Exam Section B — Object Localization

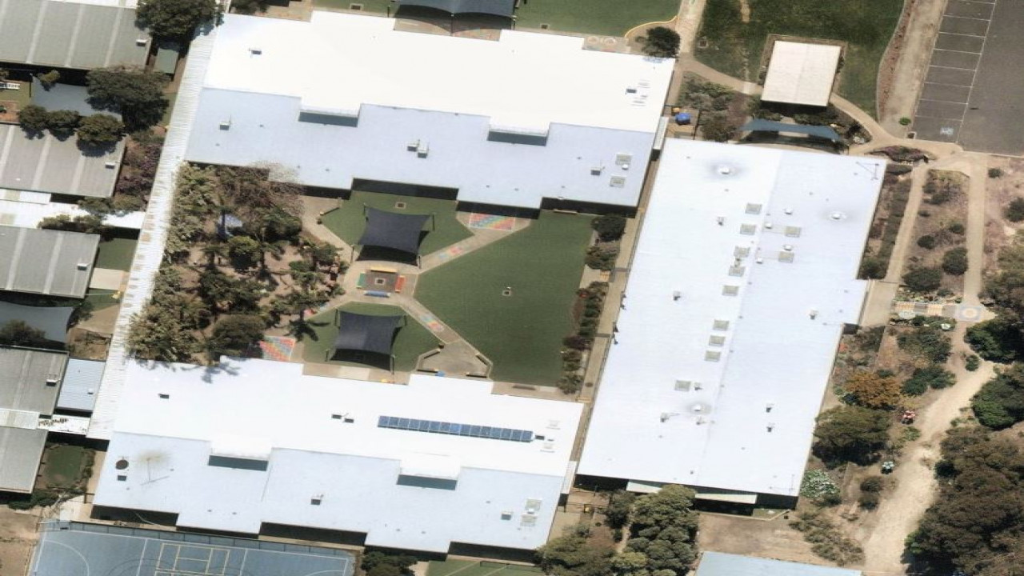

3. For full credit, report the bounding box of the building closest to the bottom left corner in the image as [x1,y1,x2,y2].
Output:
[0,426,49,499]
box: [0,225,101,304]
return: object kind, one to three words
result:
building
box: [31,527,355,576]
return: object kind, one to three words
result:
sports court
